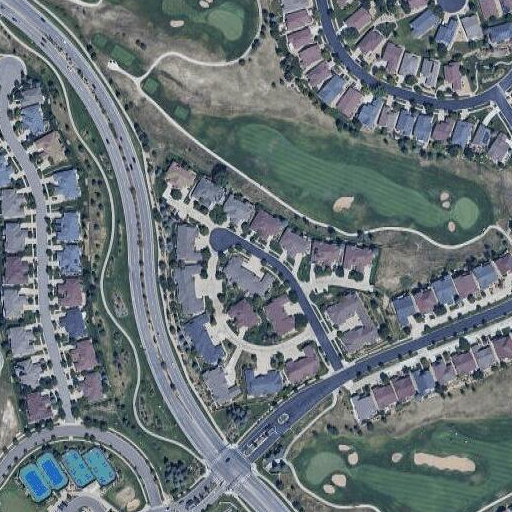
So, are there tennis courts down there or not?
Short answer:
Yes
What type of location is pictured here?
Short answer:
residential area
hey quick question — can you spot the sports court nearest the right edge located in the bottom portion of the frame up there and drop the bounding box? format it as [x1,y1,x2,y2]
[82,447,116,485]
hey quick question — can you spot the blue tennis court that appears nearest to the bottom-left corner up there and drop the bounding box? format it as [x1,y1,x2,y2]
[19,464,51,502]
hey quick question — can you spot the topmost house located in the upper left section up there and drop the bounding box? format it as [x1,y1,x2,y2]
[21,86,42,105]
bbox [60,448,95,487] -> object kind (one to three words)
sports court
